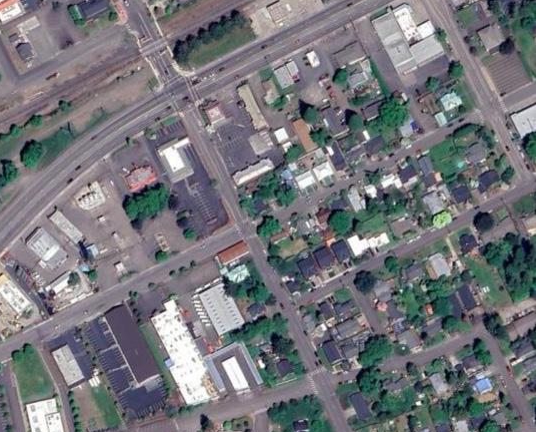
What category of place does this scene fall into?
residential area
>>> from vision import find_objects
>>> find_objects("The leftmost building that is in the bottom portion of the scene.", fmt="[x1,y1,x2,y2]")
[0,273,31,315]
